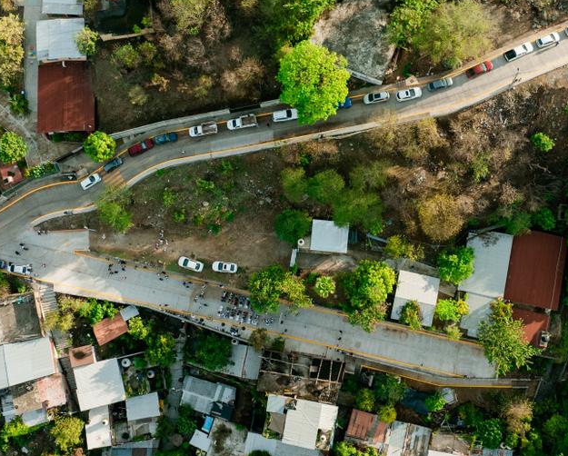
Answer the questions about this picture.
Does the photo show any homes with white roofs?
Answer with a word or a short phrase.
Yes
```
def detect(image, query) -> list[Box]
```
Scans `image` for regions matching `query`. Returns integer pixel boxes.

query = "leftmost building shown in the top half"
[0,164,26,184]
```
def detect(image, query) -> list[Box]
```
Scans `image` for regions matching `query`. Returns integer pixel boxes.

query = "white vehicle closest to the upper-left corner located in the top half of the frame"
[77,172,102,192]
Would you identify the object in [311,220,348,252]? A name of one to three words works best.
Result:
house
